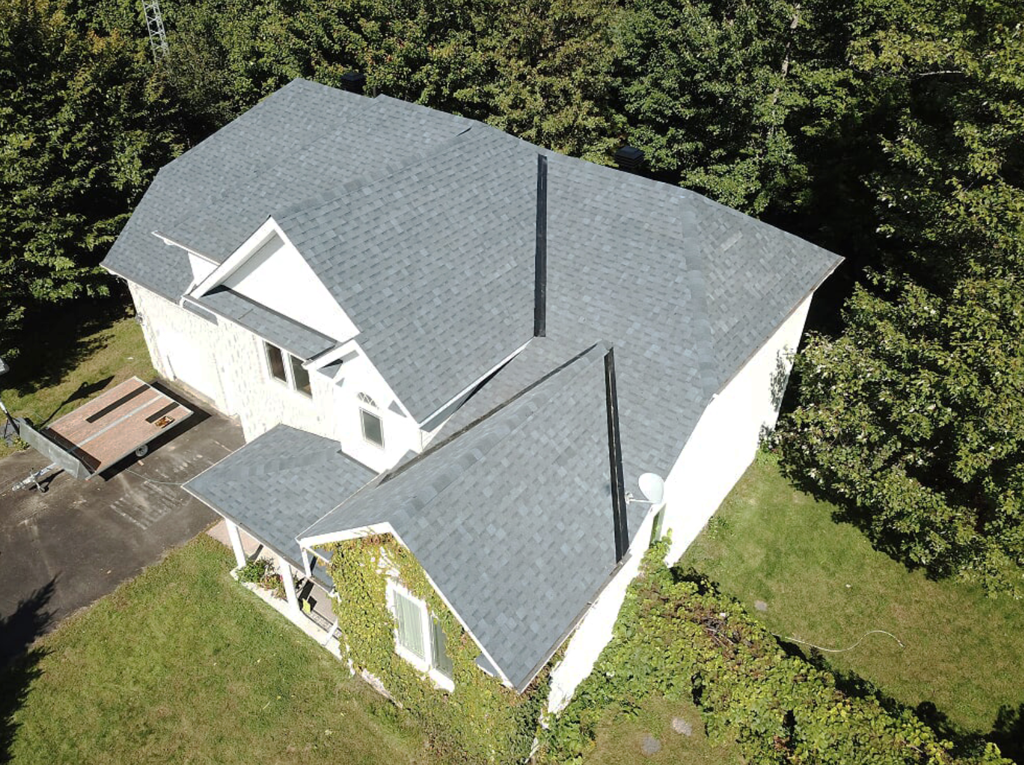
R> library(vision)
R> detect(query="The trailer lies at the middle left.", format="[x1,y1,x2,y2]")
[4,376,195,493]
